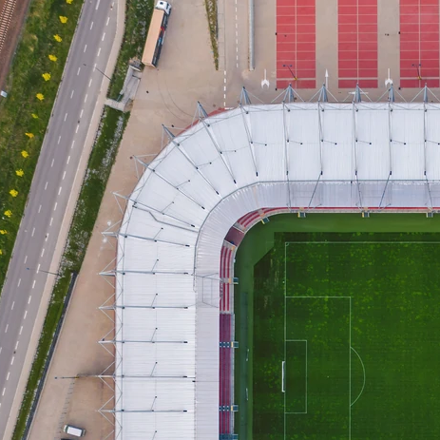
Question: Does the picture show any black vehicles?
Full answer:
No, the scene contains no black vehicle.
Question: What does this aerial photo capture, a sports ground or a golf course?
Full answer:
The area seen from above is a sports ground.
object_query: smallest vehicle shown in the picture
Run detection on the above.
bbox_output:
[65,424,87,437]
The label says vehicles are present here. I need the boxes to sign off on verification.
[140,1,169,65]
[65,424,87,437]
